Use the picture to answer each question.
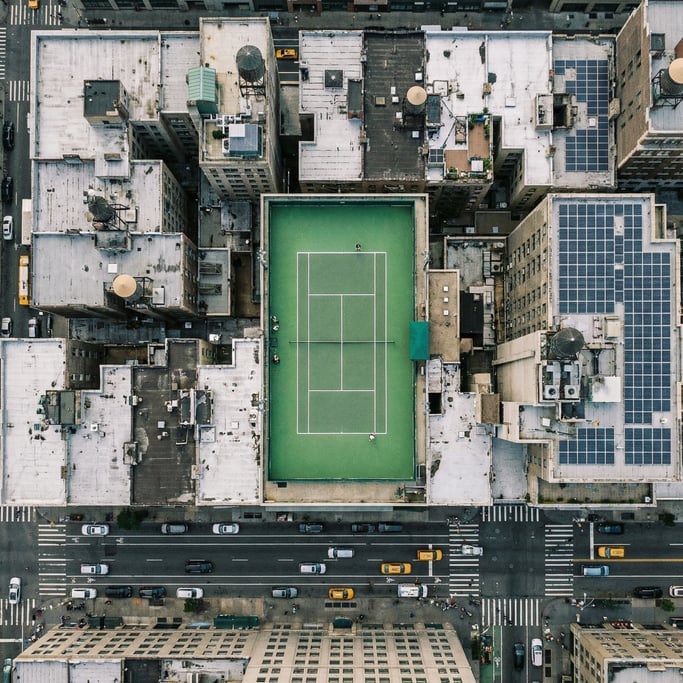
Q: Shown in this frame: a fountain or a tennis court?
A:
tennis court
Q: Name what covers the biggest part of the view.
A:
buildings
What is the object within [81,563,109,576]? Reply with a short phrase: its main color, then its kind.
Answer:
white vehicle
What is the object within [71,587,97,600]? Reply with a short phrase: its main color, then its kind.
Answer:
white vehicle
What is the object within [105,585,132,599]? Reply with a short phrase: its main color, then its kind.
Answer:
black vehicle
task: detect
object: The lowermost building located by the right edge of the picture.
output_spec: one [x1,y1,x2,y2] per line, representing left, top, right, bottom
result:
[572,625,683,683]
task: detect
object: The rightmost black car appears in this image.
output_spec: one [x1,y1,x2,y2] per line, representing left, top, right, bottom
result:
[633,586,662,599]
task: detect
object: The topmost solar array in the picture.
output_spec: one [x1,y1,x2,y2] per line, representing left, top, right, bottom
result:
[555,61,608,171]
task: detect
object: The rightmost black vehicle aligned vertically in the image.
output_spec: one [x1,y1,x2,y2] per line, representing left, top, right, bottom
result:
[513,642,526,670]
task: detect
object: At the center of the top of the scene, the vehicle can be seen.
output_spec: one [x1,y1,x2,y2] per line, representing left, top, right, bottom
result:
[275,47,299,61]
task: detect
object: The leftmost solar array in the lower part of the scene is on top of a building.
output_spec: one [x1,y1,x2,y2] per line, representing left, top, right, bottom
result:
[558,428,614,465]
